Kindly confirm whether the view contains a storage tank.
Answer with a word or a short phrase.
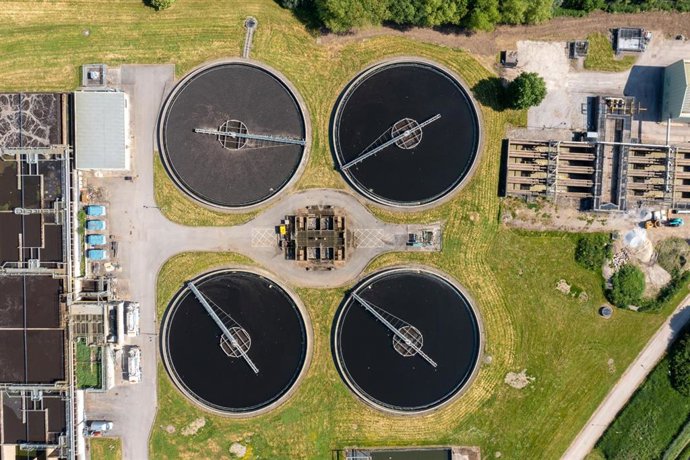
Yes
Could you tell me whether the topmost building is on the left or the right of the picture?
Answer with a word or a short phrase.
right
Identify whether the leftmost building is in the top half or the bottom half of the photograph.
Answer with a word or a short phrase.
top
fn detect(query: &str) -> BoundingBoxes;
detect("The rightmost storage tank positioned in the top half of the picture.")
[330,57,483,211]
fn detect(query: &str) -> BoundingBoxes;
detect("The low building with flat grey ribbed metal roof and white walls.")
[73,90,133,170]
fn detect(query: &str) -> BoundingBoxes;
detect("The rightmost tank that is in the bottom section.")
[330,263,484,417]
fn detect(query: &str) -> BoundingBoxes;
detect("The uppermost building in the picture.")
[615,28,643,55]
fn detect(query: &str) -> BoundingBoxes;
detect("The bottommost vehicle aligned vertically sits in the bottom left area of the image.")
[125,349,143,387]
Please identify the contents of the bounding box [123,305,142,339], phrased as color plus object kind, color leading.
white vehicle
